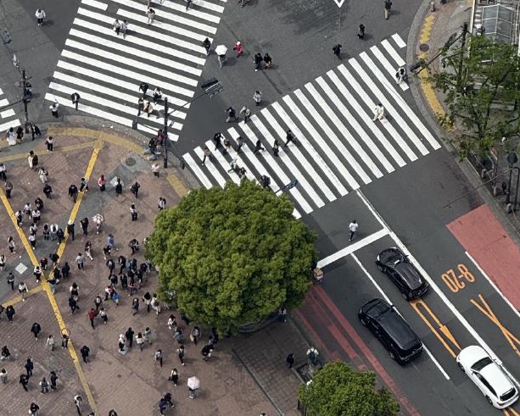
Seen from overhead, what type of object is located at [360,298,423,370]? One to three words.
car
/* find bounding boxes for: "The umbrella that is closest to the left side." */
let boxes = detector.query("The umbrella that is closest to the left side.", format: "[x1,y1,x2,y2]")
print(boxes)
[89,215,105,228]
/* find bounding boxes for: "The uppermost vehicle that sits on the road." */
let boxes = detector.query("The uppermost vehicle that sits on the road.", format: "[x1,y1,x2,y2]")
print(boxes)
[374,245,431,307]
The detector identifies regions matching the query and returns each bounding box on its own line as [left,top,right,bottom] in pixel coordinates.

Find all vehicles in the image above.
[374,245,431,307]
[457,344,520,413]
[360,298,423,370]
